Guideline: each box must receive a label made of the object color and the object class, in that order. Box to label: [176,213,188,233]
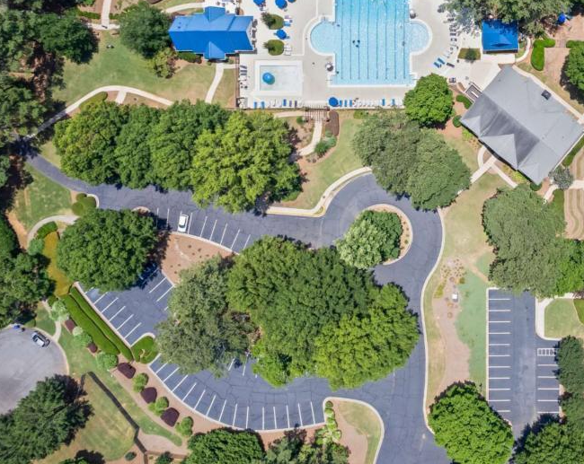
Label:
white vehicle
